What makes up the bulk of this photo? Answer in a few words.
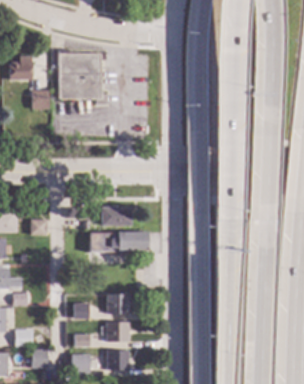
paved ground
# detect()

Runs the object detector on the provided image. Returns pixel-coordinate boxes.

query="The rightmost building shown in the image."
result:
[119,232,150,250]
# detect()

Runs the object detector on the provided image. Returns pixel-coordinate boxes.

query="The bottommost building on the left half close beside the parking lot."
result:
[32,90,50,110]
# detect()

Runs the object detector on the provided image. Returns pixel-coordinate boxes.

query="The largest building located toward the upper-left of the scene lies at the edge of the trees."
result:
[58,52,104,100]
